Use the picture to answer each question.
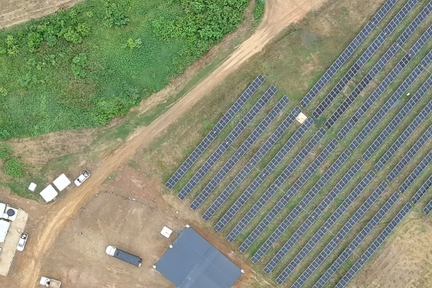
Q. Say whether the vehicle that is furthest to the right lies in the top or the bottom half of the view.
bottom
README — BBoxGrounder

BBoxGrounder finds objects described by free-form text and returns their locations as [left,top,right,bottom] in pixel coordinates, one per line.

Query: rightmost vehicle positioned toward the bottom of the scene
[106,246,143,266]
